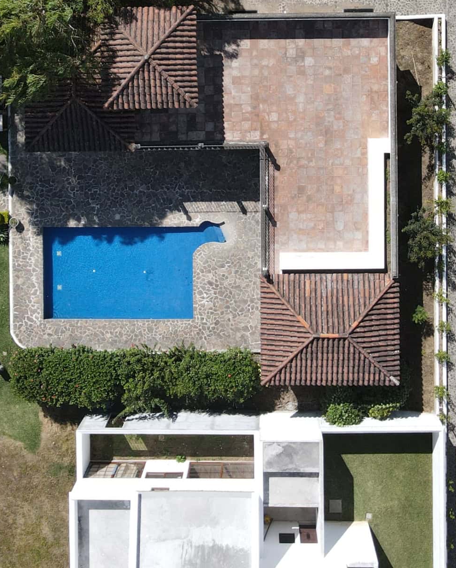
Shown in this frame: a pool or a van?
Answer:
pool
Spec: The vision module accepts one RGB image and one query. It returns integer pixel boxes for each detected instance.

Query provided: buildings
[133,8,396,277]
[68,411,325,568]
